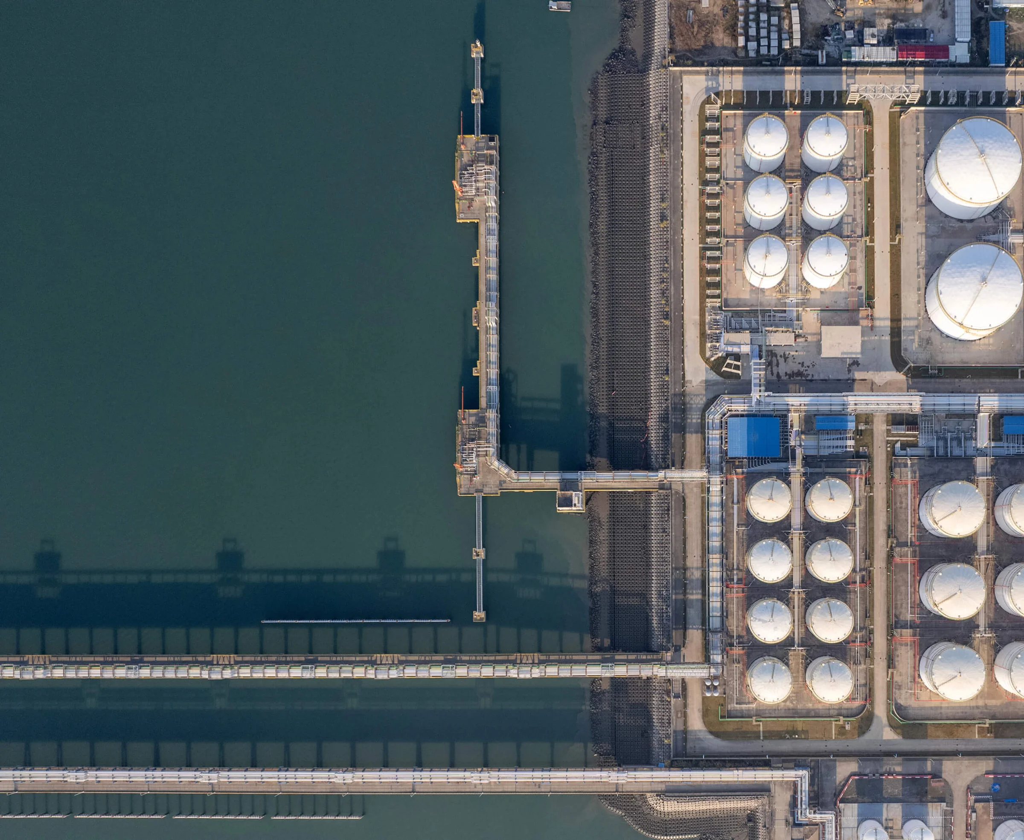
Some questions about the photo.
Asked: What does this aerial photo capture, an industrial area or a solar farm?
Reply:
industrial area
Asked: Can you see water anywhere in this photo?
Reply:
Yes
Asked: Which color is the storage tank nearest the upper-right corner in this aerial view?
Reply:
white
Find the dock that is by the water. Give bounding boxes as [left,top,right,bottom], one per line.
[455,134,667,496]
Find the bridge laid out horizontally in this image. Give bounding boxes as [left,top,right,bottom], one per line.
[846,85,919,105]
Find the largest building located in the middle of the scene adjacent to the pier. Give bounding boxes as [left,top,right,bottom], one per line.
[557,491,586,513]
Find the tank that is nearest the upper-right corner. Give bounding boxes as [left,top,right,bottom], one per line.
[924,114,1024,220]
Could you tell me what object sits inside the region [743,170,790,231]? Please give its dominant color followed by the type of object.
white storage tank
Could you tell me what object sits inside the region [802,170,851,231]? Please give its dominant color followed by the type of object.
white storage tank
